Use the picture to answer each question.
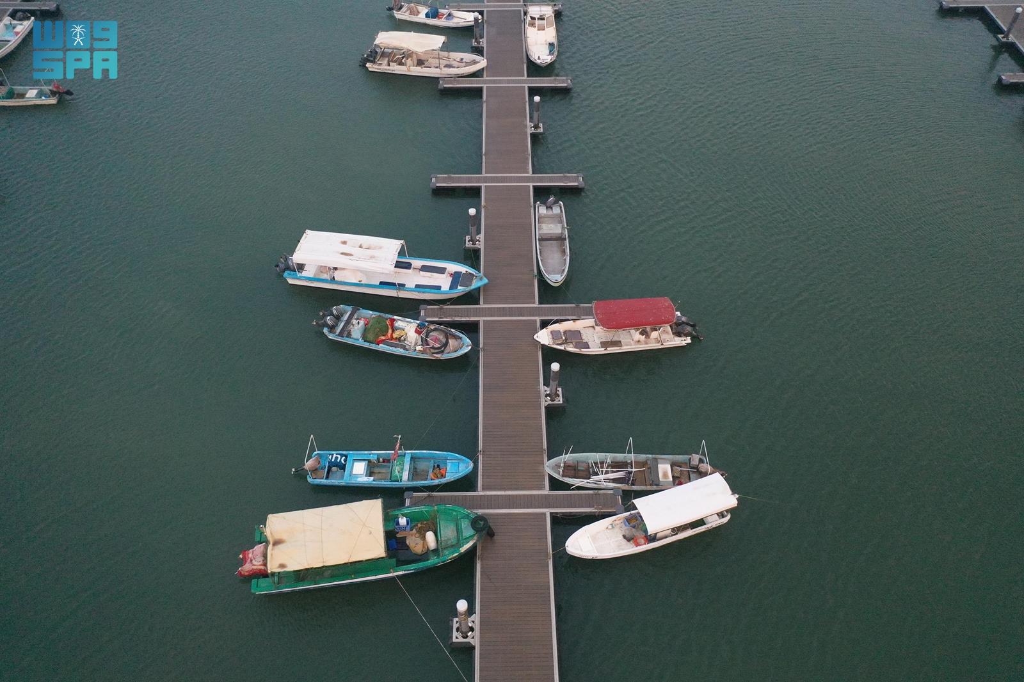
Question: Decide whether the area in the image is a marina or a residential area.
marina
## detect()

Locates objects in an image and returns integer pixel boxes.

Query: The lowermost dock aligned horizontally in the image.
[403,489,624,516]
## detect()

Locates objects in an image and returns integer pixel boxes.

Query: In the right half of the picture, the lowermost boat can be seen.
[564,475,743,557]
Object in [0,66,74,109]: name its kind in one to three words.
boat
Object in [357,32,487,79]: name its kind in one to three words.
boat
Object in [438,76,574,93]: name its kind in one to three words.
pier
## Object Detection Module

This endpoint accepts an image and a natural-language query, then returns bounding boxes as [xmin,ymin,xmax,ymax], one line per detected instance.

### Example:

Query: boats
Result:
[524,0,558,69]
[536,195,571,286]
[357,32,487,79]
[533,292,708,354]
[386,0,485,31]
[0,6,36,68]
[0,66,74,109]
[564,475,743,557]
[233,498,485,599]
[545,437,731,491]
[269,231,492,302]
[309,307,472,360]
[291,436,474,487]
